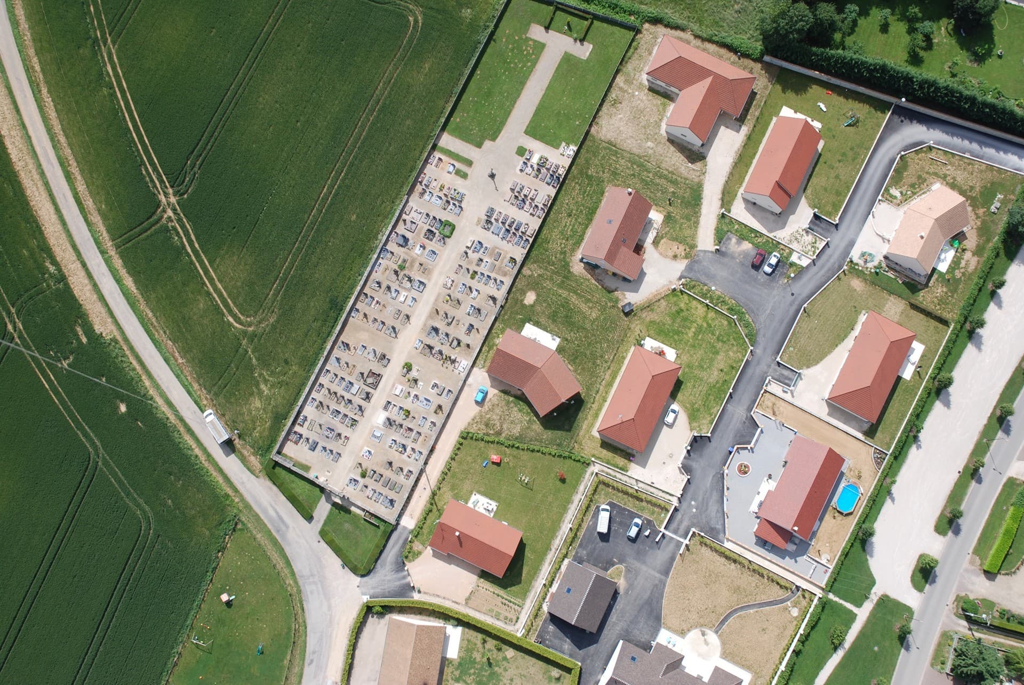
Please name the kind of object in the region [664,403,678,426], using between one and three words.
car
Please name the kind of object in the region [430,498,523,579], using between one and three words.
house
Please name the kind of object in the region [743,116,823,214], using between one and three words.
house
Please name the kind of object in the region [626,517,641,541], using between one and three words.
car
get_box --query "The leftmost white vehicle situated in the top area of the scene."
[763,251,780,274]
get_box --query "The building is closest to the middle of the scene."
[487,329,581,416]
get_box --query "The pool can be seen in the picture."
[834,482,865,514]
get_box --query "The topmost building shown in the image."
[645,35,757,148]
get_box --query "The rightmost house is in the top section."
[883,185,970,274]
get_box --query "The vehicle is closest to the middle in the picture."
[474,385,487,405]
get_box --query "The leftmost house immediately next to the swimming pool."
[753,435,846,550]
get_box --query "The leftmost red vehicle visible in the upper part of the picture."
[751,250,764,269]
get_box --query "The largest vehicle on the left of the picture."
[204,409,230,445]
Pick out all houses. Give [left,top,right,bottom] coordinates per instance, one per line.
[378,616,447,685]
[430,498,523,579]
[601,640,744,685]
[487,329,581,416]
[824,310,919,427]
[743,116,823,214]
[547,561,617,634]
[645,35,757,148]
[582,186,654,279]
[597,346,683,454]
[883,185,970,274]
[753,435,846,550]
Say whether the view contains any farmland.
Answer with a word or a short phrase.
Yes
